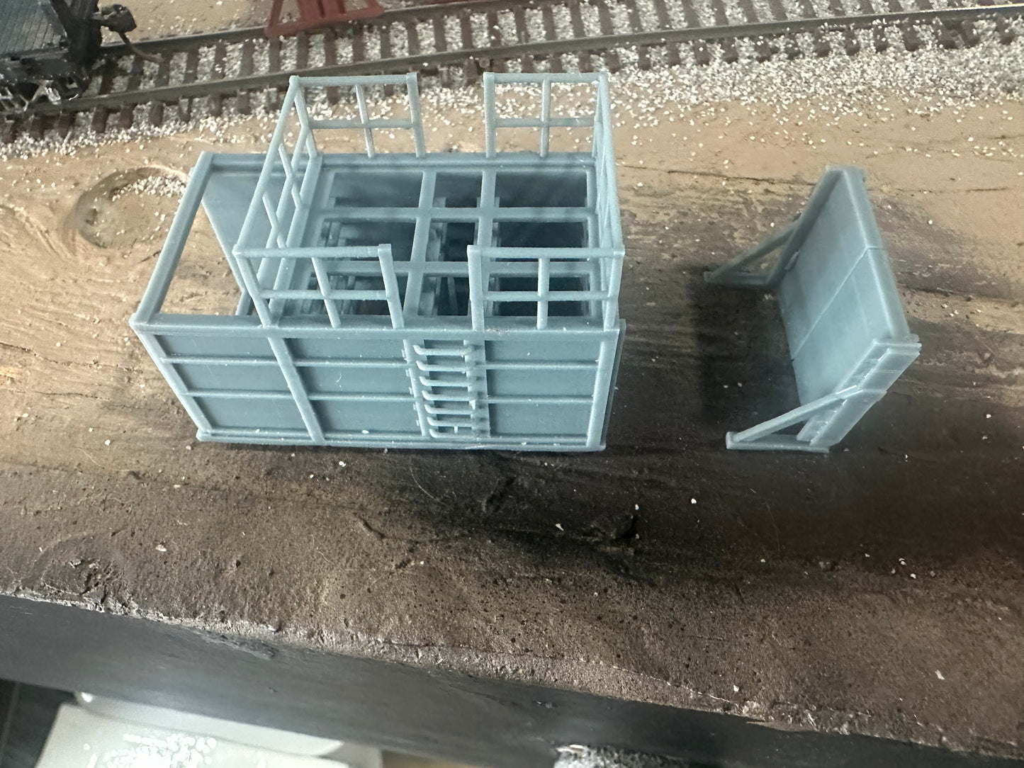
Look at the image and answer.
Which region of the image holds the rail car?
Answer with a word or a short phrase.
top left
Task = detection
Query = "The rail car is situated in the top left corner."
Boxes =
[0,0,207,107]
